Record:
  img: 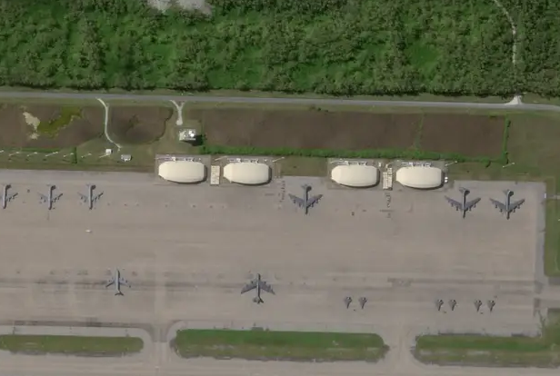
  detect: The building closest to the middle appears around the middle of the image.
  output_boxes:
[224,163,269,185]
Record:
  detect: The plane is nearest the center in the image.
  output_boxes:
[289,183,324,213]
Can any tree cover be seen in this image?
Yes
